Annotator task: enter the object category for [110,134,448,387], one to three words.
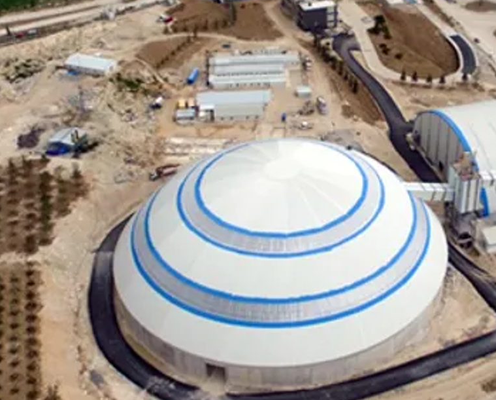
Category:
building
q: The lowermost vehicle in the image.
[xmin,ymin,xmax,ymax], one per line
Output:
[152,164,180,178]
